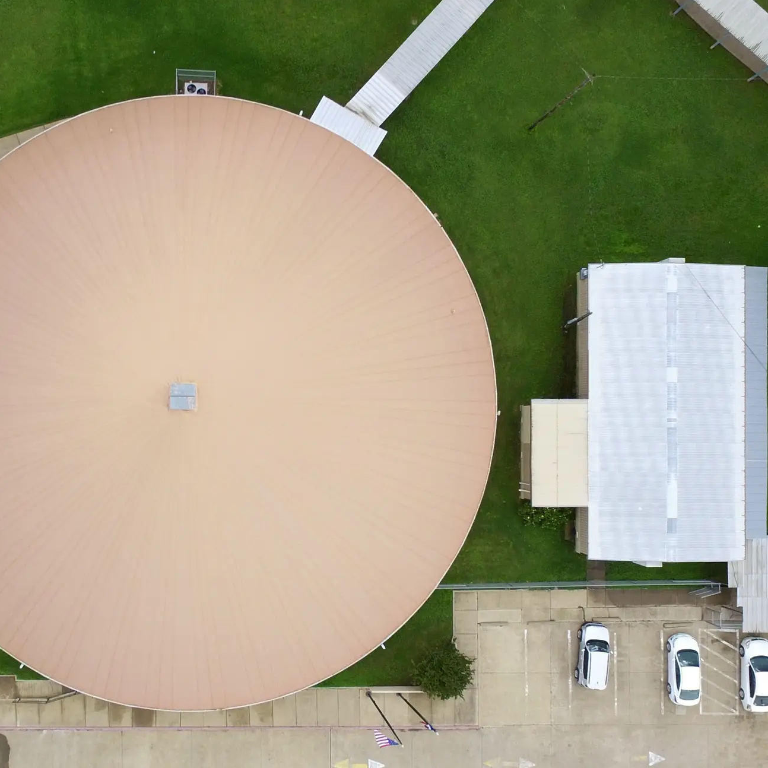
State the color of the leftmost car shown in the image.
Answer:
white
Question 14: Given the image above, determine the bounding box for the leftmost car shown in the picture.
[573,620,612,690]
